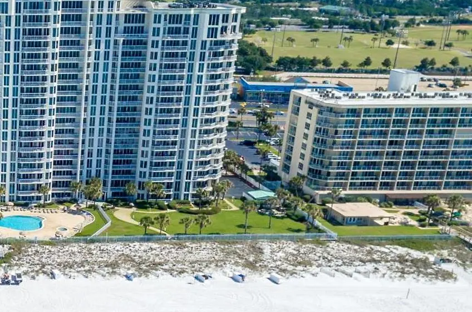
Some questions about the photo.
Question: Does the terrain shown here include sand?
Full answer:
Yes, sand shows up in the scene.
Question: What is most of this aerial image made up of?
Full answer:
The scene is dominated by buildings.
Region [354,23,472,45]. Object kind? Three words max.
sports field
